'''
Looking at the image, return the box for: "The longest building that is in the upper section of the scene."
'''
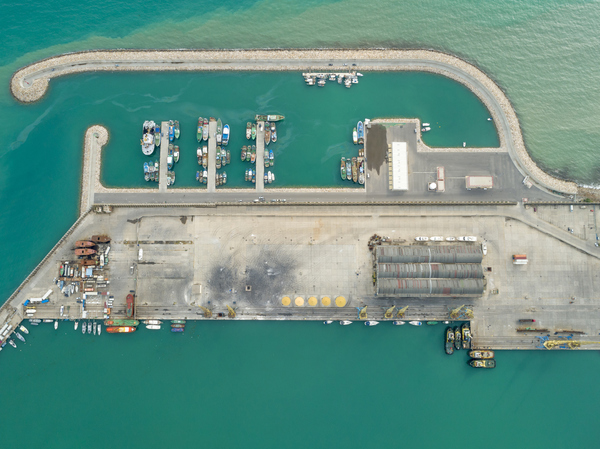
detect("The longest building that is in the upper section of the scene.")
[388,142,408,191]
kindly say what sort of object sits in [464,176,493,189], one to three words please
building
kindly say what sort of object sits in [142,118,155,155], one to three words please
boat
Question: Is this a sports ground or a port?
port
